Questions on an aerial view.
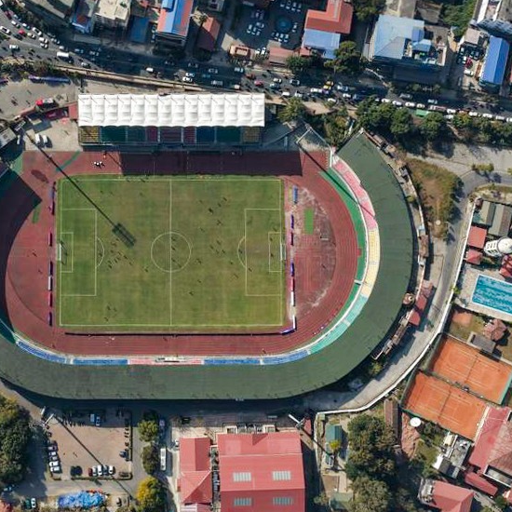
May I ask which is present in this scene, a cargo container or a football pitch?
football pitch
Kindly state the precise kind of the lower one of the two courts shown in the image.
tennis court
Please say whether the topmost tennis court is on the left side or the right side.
right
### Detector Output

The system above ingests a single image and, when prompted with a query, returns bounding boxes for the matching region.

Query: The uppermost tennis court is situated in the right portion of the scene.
[432,336,512,405]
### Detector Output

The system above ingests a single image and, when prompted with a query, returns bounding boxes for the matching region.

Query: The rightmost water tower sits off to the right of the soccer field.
[482,238,512,256]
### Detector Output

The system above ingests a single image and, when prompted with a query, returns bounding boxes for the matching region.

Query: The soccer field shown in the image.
[53,174,288,330]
